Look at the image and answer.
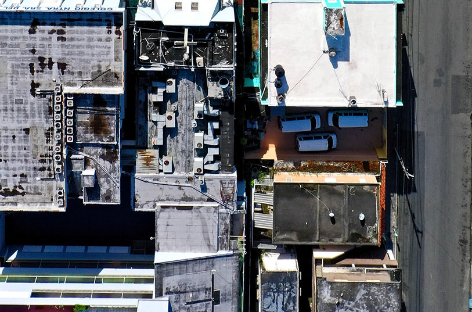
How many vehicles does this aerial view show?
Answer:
three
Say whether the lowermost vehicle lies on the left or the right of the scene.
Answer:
right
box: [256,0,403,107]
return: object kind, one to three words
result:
house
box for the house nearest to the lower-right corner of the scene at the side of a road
[311,235,401,312]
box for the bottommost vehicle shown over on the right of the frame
[295,127,335,151]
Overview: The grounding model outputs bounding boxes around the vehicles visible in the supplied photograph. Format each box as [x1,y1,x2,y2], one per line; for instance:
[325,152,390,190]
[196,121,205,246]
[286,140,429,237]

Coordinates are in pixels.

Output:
[327,107,368,128]
[295,127,335,151]
[279,109,319,132]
